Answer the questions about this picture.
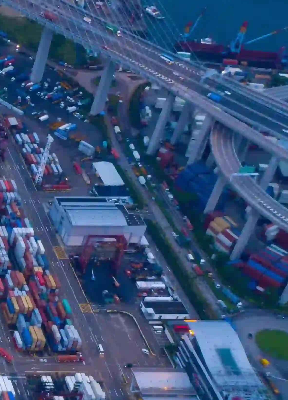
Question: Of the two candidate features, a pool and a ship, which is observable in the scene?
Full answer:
The image shows a ship.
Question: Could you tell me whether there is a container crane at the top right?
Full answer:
No, I see no container crane at the top right.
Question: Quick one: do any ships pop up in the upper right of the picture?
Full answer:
Yes, a ship appears in the upper right of the picture.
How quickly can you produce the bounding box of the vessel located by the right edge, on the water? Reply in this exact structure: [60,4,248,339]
[219,15,288,68]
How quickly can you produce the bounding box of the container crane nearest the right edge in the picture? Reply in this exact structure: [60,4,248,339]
[72,221,127,259]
